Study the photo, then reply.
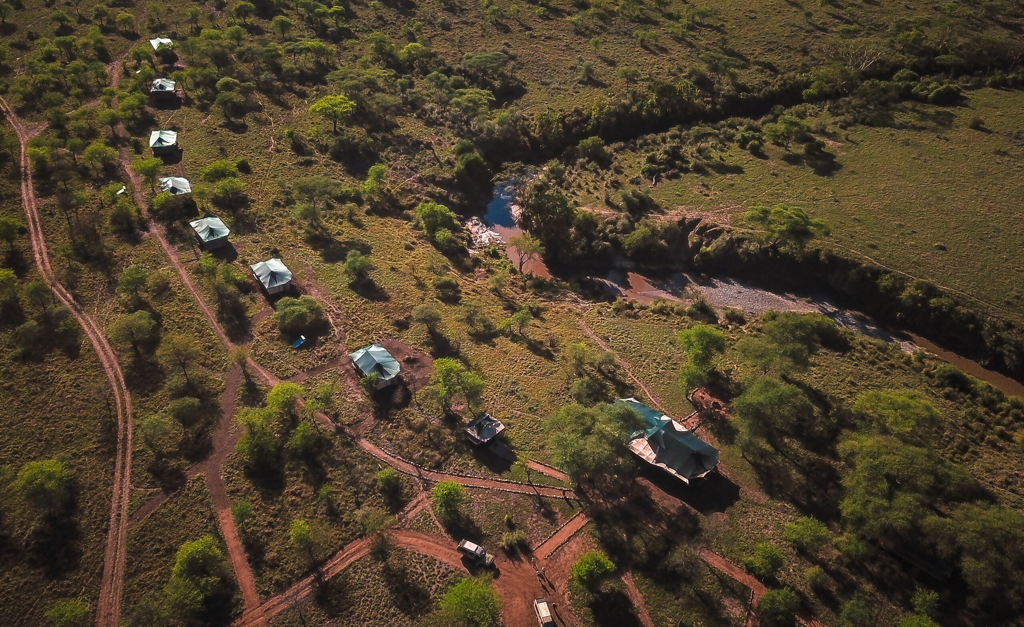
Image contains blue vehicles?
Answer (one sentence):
No, this view has no blue vehicle in it.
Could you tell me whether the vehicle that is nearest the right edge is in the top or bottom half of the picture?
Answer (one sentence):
Seen from above, the vehicle that is nearest the right edge lies in the bottom half of the view.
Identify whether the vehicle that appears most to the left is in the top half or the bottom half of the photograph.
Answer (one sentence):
Seen from above, the vehicle that appears most to the left lies in the bottom half of the view.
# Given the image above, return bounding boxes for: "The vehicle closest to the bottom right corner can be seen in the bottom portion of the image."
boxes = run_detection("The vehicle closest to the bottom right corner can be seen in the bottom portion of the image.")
[534,598,555,627]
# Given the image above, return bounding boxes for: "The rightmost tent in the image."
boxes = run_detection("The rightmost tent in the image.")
[608,397,722,490]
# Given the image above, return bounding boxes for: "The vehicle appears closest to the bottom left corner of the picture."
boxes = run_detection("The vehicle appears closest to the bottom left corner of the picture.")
[459,539,495,571]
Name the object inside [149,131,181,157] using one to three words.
tent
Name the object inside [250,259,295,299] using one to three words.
tent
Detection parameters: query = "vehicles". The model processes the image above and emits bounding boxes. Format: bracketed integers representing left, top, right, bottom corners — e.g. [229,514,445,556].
[459,539,495,571]
[534,598,555,627]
